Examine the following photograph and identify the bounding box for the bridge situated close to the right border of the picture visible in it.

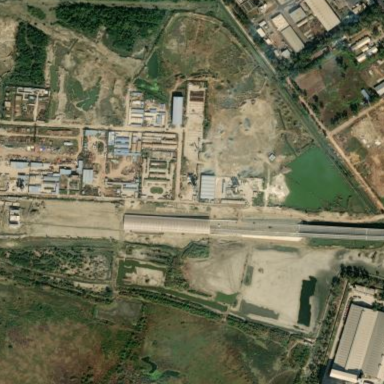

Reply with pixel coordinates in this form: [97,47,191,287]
[300,224,384,239]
